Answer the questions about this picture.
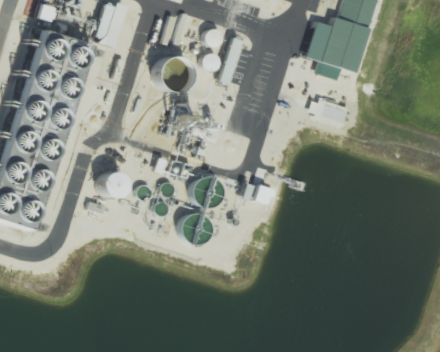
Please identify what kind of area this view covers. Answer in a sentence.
This looks like an industrial area.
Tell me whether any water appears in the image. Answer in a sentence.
Yes, some water is visible.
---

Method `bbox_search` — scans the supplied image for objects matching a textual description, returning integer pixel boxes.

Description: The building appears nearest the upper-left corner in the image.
[32,4,56,22]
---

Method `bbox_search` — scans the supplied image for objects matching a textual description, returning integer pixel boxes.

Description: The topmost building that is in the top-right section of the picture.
[335,0,378,26]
